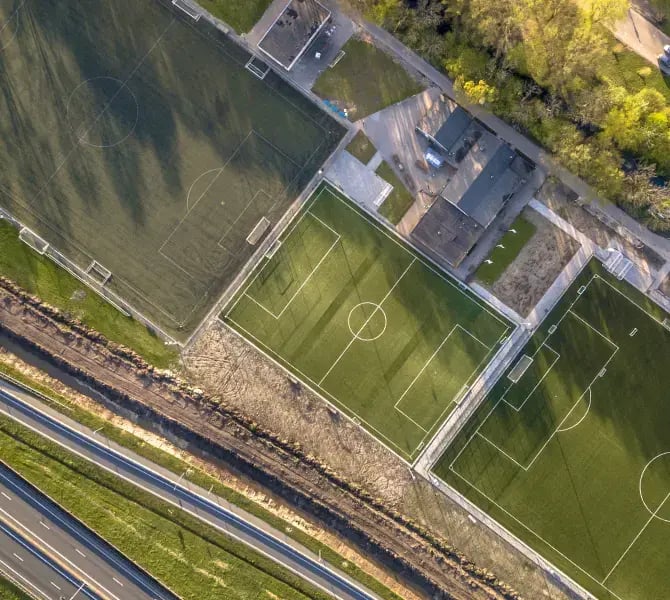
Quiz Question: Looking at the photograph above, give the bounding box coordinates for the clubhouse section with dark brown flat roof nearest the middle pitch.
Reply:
[411,196,485,267]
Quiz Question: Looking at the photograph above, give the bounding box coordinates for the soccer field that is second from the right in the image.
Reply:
[218,177,519,467]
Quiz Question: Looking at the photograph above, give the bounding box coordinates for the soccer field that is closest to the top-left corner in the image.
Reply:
[0,0,345,347]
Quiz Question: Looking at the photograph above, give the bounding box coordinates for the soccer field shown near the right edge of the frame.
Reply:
[425,254,670,600]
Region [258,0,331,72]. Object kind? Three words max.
building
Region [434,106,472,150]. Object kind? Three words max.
shed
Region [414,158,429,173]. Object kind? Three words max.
car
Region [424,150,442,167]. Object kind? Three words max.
vehicle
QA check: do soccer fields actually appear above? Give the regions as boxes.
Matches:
[425,254,670,600]
[218,177,519,467]
[0,0,345,347]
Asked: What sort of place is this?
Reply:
sports ground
